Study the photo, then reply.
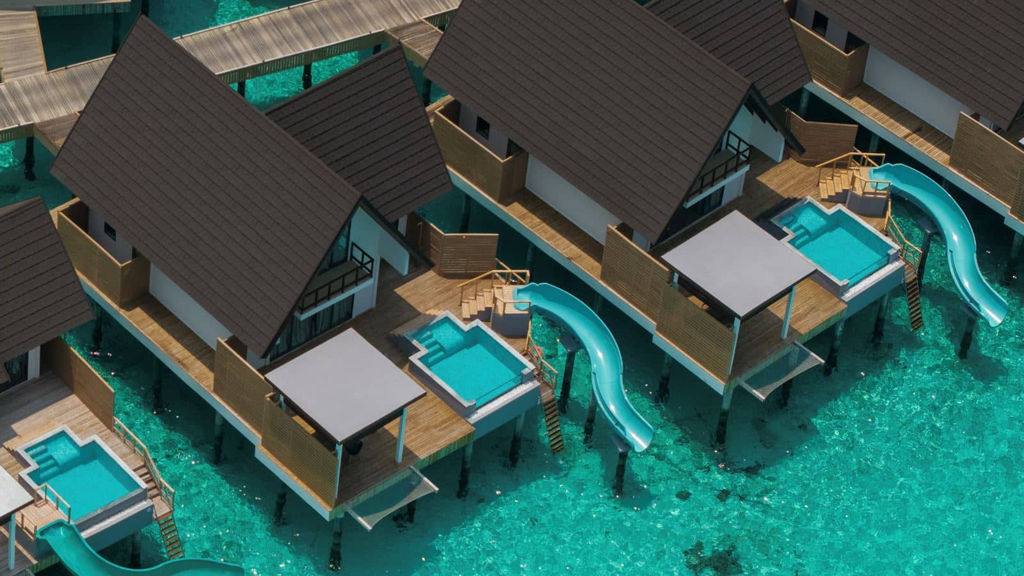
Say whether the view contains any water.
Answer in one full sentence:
Yes, there is water in the image.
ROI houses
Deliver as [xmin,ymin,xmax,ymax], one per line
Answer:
[423,0,889,438]
[47,11,530,564]
[778,0,1024,280]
